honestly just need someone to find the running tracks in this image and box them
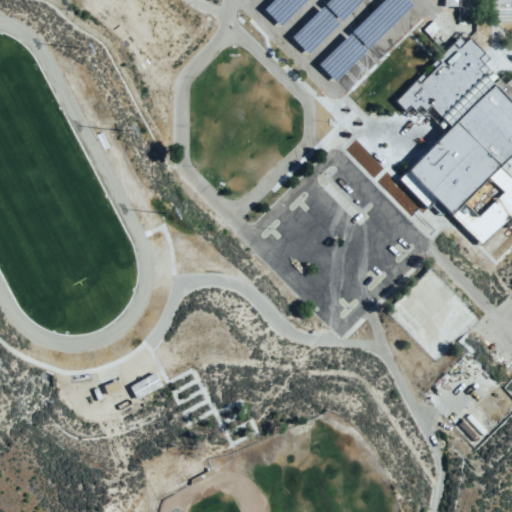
[0,13,157,354]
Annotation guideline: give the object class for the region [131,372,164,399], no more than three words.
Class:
building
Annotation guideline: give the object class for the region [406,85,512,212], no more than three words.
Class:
building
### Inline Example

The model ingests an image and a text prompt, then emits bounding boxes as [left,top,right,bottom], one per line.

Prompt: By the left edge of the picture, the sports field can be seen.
[0,34,137,334]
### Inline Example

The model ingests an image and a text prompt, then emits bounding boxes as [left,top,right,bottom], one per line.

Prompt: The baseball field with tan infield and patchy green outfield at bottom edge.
[159,414,402,512]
